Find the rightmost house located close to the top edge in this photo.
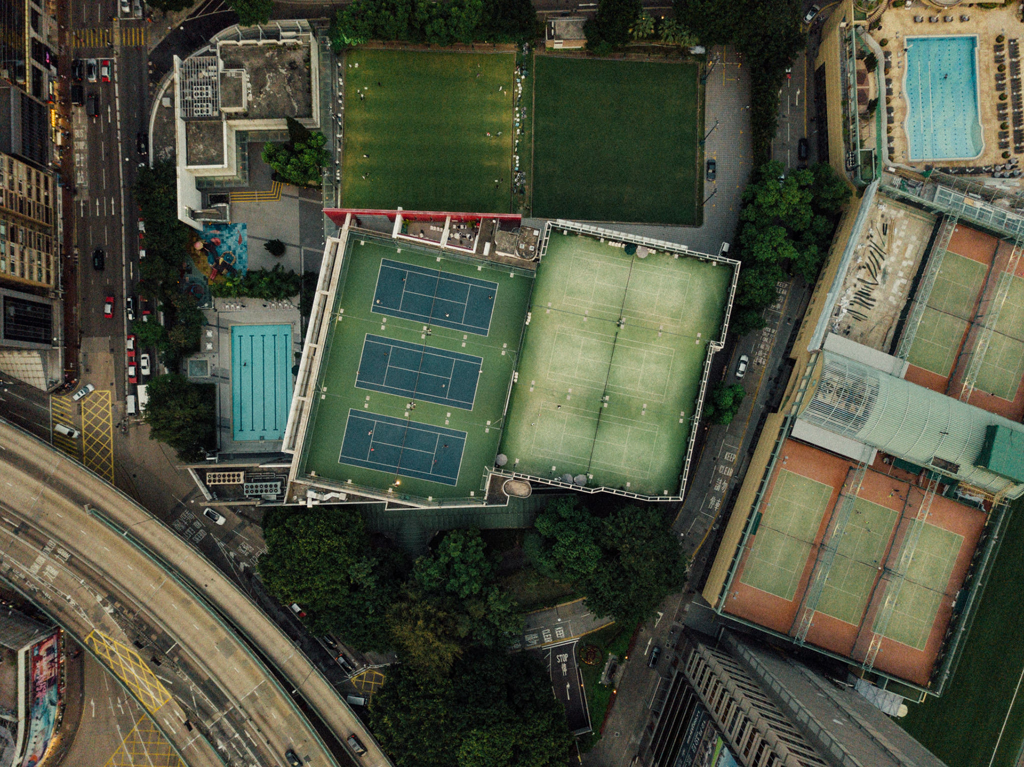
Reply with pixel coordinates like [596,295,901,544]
[545,16,587,55]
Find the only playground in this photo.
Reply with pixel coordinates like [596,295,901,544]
[183,223,247,307]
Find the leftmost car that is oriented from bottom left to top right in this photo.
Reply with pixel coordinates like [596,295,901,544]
[71,383,95,401]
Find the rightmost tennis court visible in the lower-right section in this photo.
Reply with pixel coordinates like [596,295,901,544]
[871,518,964,651]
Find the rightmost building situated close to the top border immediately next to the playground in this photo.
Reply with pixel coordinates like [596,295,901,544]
[147,17,323,243]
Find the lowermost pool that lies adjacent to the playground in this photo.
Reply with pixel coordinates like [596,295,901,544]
[229,321,295,443]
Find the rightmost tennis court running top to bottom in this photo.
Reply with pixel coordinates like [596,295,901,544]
[961,271,1024,401]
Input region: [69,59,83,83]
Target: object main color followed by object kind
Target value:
black vehicle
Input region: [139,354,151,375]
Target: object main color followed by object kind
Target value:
white vehicle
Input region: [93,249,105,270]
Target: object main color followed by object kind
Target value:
black vehicle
